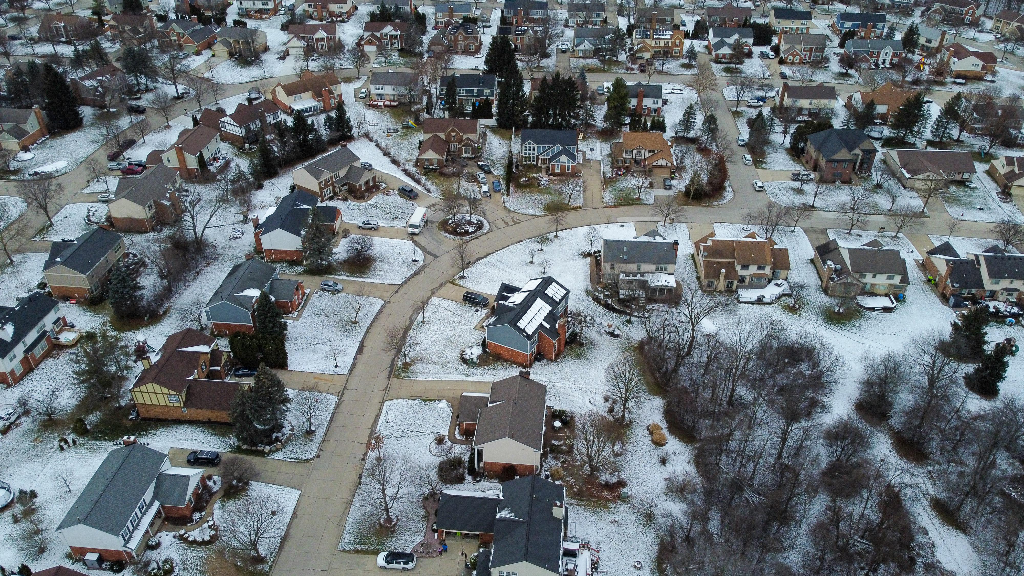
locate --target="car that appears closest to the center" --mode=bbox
[461,289,490,306]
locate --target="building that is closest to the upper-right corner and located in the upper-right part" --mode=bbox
[992,10,1024,43]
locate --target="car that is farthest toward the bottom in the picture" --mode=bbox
[375,550,417,571]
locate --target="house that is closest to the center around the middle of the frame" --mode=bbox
[485,275,572,366]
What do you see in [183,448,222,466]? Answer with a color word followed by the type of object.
black car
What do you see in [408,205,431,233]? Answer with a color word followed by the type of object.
white truck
